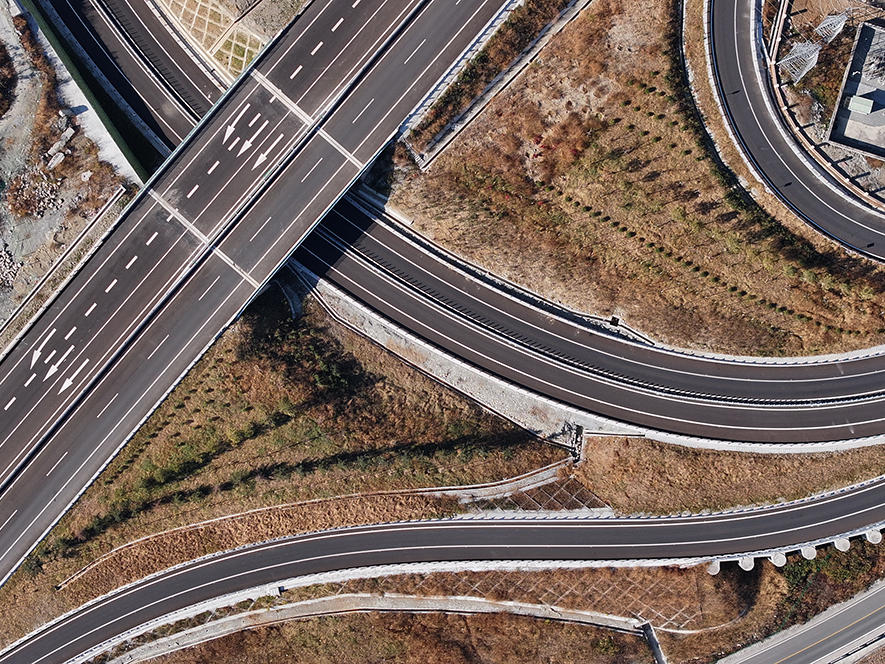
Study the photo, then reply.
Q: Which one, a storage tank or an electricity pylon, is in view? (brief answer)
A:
electricity pylon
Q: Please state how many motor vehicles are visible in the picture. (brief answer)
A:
zero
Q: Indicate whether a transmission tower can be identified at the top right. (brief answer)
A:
Yes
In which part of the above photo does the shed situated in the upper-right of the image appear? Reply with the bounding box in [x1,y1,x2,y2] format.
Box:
[843,95,874,117]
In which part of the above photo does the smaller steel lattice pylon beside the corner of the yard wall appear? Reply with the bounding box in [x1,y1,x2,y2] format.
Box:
[816,1,860,43]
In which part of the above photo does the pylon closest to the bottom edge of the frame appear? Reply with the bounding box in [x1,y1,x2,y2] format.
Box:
[779,34,828,84]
